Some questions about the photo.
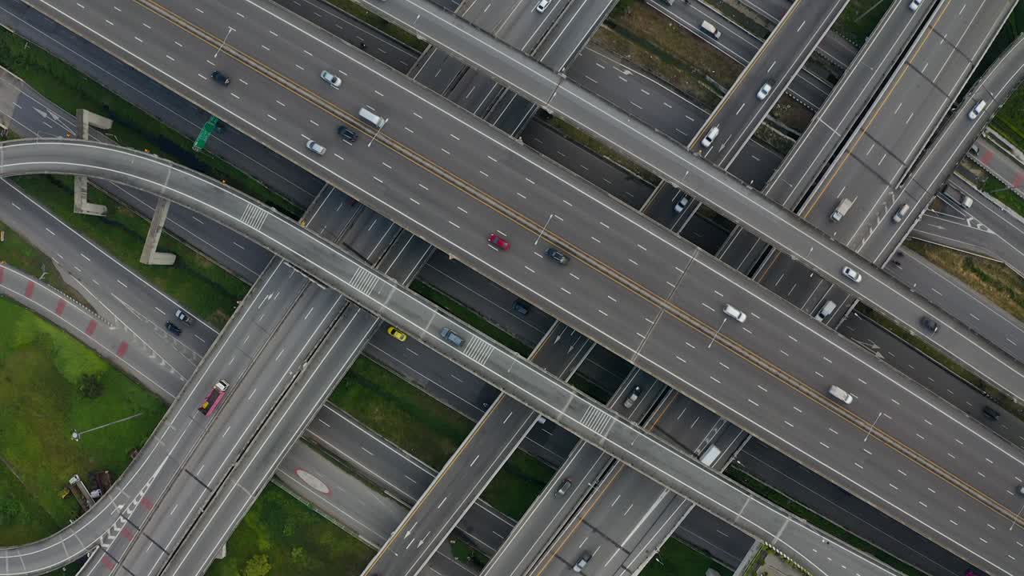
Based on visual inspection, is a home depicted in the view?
No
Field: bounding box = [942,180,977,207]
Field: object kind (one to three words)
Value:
truck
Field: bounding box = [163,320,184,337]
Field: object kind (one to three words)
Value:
car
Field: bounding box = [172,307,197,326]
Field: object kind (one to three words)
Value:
vehicle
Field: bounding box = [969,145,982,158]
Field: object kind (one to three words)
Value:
vehicle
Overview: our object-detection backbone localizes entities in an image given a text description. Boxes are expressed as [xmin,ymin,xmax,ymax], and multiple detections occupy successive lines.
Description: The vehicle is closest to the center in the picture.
[511,298,532,315]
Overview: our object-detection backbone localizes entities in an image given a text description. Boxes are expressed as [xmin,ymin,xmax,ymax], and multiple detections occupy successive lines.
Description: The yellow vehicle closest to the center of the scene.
[386,325,407,341]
